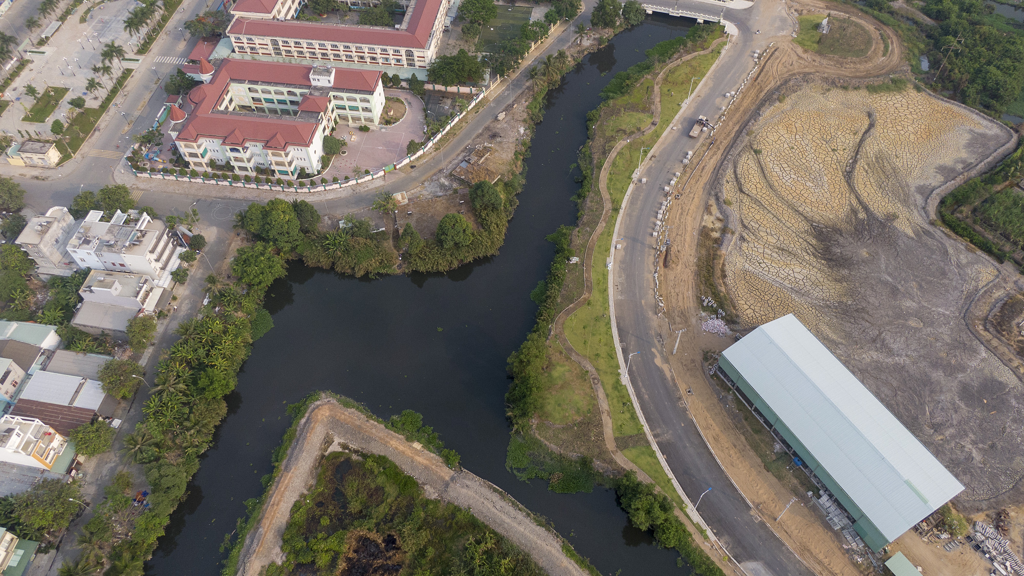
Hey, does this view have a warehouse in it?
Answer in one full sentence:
Yes, there's a warehouse here.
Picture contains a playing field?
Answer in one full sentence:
Yes, there is a playing field in the image.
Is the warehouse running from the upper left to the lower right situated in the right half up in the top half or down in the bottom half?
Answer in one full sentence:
The warehouse running from the upper left to the lower right situated in the right half is in the bottom half of the image.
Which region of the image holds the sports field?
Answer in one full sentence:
The sports field sits in the top section of the image.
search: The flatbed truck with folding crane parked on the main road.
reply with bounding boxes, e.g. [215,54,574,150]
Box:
[689,110,718,137]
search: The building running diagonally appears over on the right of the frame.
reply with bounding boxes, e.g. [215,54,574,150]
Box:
[715,313,964,554]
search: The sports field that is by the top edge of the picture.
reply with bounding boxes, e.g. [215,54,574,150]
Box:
[479,1,533,53]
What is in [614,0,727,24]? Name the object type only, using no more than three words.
bridge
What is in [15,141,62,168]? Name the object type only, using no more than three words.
building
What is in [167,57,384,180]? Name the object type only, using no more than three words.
building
